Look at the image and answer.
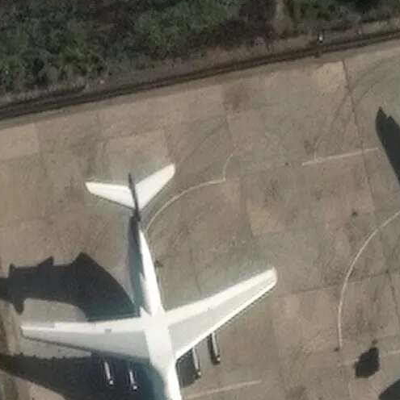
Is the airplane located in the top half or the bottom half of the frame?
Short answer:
bottom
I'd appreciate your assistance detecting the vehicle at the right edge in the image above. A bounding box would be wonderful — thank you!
[361,348,381,373]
